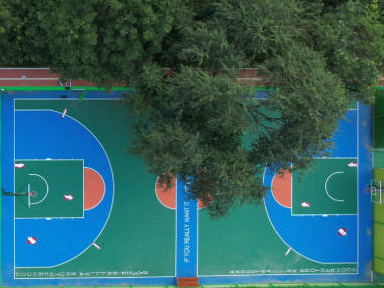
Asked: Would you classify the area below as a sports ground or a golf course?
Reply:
sports ground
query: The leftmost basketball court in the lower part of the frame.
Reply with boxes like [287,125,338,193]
[0,90,372,288]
